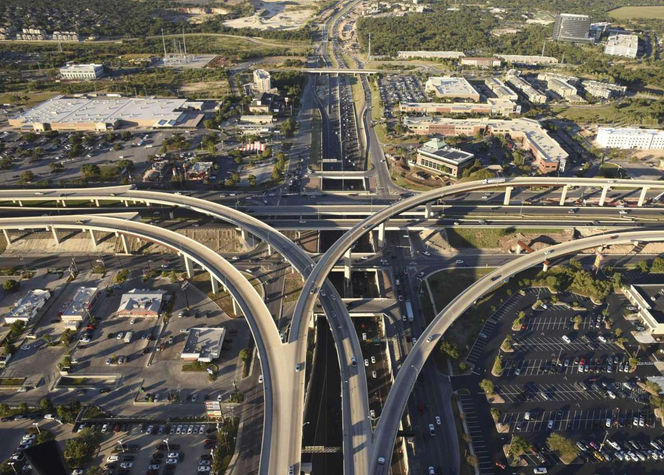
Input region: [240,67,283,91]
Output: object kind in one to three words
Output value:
building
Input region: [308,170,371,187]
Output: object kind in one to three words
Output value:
bridge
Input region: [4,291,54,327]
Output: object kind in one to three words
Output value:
building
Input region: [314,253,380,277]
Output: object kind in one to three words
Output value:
bridge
